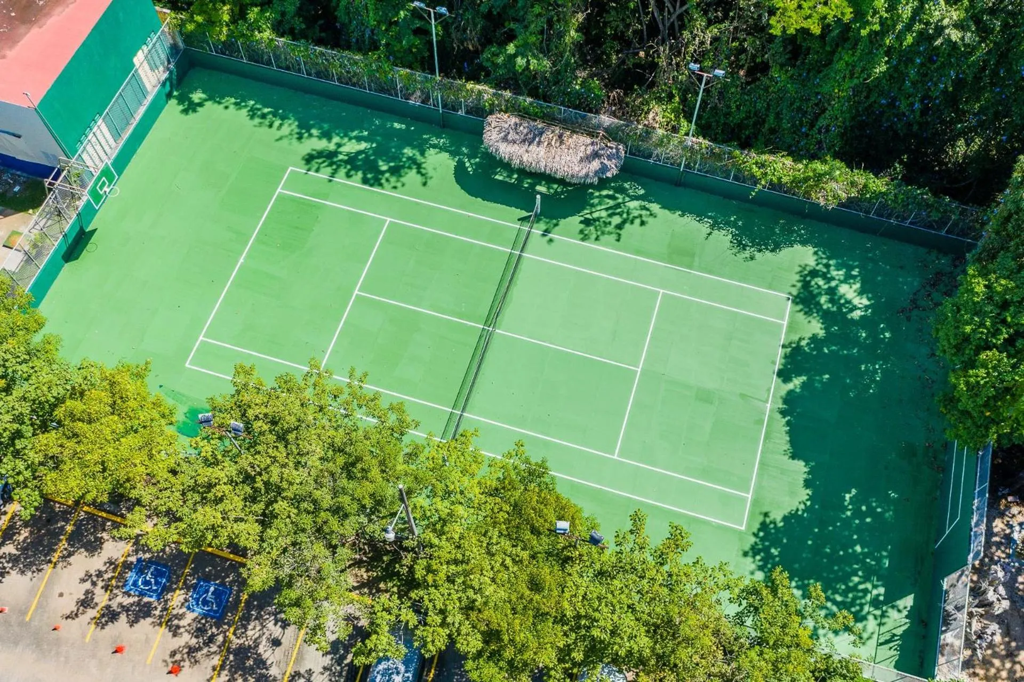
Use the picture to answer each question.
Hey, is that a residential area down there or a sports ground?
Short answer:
sports ground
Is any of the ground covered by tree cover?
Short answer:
Yes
